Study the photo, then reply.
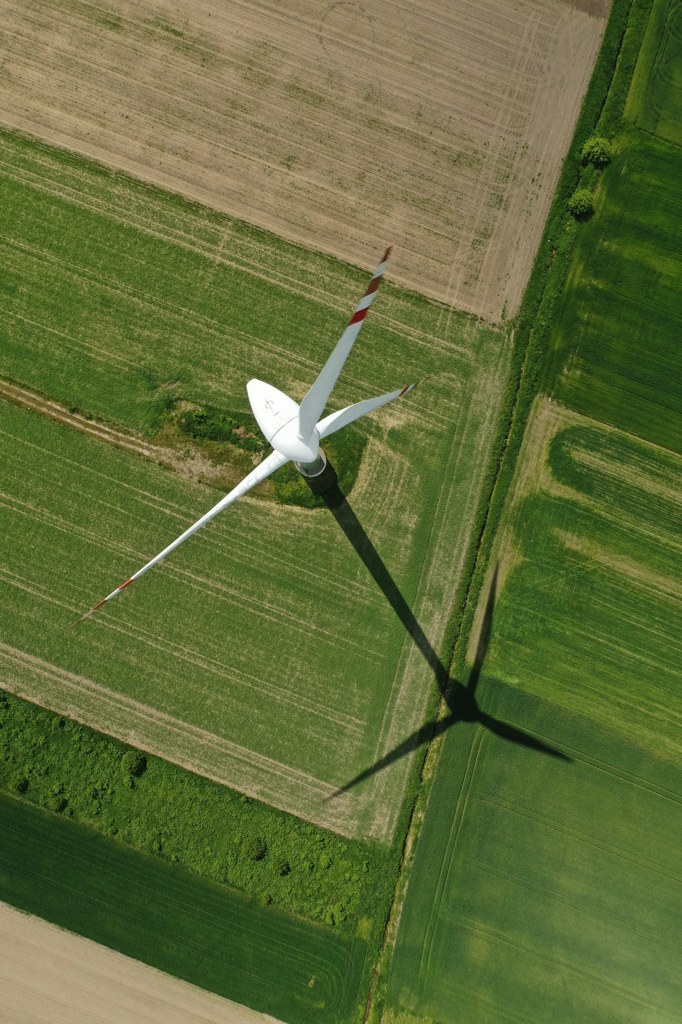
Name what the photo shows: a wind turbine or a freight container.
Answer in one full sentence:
I can see a wind turbine in this picture.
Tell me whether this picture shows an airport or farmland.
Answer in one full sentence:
This image shows farmland.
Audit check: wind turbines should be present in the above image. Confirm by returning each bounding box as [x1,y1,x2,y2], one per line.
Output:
[70,244,431,628]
